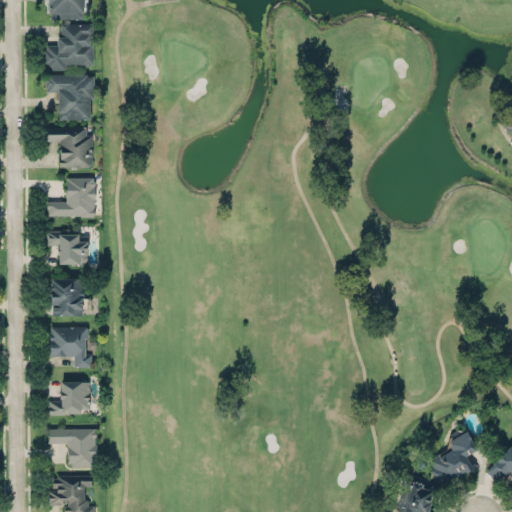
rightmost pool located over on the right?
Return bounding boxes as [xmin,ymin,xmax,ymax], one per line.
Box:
[466,414,483,436]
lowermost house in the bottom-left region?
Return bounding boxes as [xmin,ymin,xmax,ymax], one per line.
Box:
[49,474,96,512]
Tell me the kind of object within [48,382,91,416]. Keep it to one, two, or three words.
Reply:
house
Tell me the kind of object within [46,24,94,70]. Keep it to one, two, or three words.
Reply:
house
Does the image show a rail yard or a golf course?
golf course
